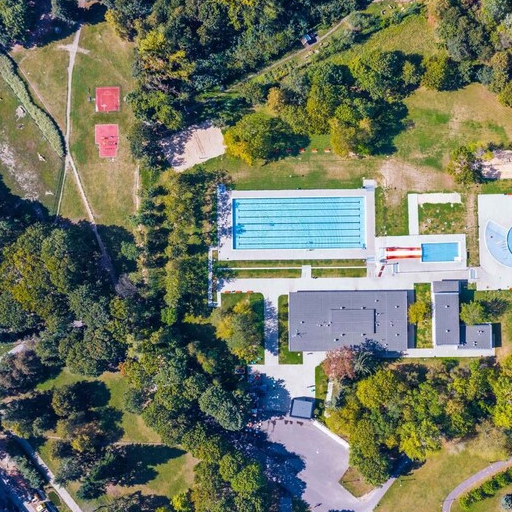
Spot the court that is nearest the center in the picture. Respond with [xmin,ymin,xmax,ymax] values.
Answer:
[161,122,226,170]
